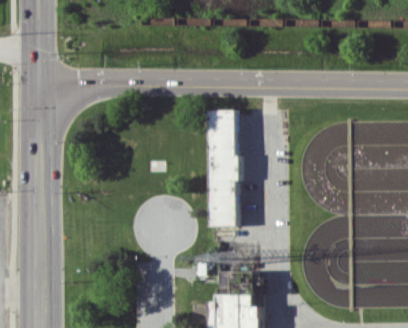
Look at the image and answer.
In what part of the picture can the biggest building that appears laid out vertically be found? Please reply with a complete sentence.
You can find the biggest building that appears laid out vertically in the center area of the picture.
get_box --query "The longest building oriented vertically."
[208,109,244,227]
